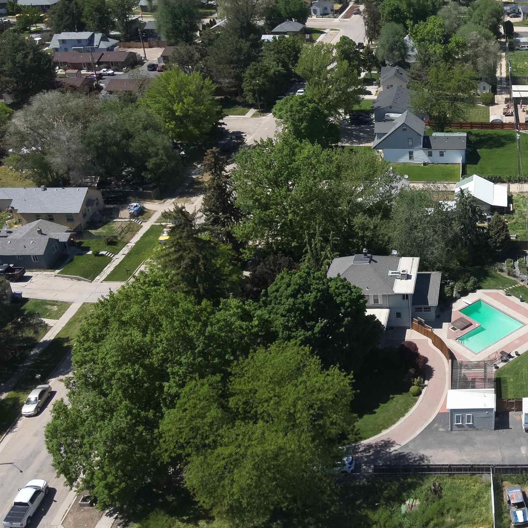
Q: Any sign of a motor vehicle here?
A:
Yes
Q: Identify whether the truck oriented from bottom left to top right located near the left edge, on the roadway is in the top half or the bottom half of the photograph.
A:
bottom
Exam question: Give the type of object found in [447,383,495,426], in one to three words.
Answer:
shed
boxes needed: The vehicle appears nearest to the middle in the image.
[157,222,175,242]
